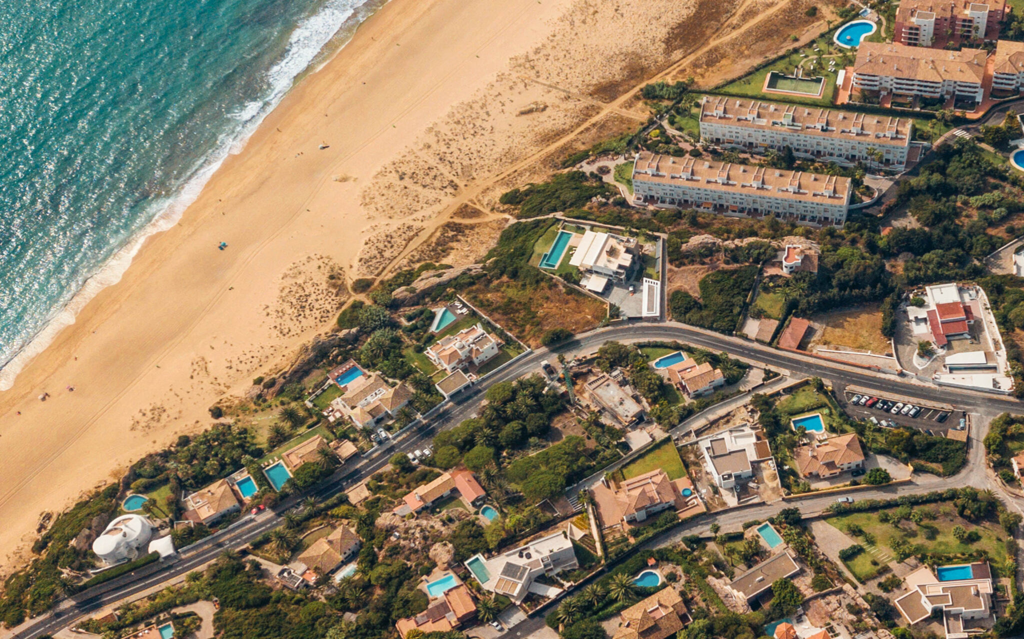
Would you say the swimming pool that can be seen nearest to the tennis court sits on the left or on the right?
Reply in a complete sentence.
The swimming pool that can be seen nearest to the tennis court sits on the right side.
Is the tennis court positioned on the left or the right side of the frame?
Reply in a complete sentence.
The tennis court appears in the right half of the scene.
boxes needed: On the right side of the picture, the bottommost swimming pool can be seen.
[756,618,792,639]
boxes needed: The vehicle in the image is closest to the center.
[539,356,558,380]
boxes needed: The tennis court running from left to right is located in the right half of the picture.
[767,71,822,92]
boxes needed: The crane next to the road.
[541,319,604,411]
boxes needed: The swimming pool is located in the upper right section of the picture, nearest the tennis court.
[835,20,876,48]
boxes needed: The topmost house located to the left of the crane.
[424,323,504,374]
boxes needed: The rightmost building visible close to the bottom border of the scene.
[893,579,992,639]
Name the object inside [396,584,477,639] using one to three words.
house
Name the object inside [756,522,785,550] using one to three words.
swimming pool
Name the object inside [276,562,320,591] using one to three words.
shed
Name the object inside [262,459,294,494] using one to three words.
swimming pool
